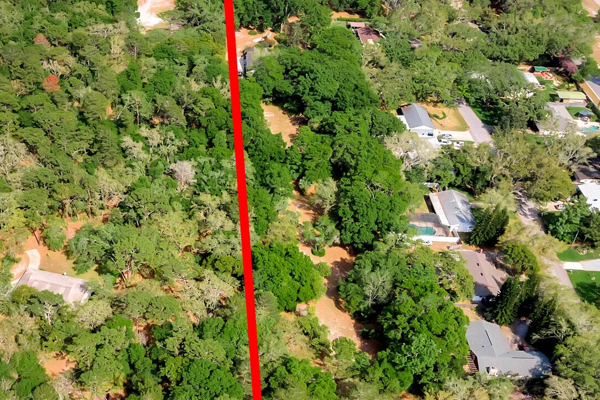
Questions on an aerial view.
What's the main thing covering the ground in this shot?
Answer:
trees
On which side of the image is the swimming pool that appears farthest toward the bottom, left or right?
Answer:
right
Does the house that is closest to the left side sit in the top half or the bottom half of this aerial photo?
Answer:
bottom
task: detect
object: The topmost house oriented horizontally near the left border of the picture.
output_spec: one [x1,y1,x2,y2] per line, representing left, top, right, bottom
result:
[16,268,87,311]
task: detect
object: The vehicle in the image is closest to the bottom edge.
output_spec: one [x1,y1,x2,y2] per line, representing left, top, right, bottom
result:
[511,338,537,353]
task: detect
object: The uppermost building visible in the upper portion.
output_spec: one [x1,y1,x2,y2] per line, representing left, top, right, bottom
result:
[349,22,380,50]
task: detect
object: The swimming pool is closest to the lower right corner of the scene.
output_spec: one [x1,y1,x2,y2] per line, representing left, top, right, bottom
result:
[407,213,454,237]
